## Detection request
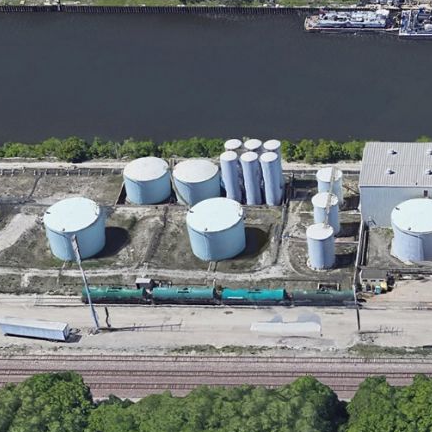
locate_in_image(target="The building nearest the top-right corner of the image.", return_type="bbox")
[358,142,432,230]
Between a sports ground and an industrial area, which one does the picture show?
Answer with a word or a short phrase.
industrial area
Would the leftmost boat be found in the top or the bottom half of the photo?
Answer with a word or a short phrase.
top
